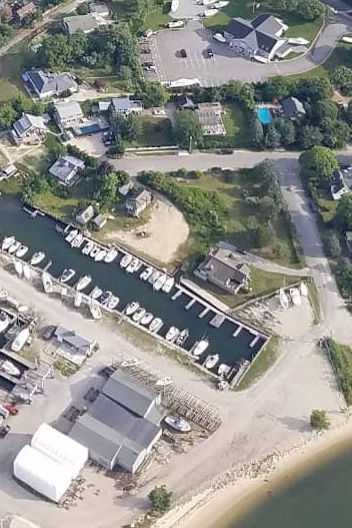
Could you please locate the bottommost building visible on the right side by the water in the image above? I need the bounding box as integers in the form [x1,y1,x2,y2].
[196,244,251,304]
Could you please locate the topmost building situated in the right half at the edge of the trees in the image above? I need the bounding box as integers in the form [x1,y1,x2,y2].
[219,13,299,66]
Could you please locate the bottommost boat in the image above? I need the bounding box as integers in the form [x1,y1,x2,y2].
[163,415,190,432]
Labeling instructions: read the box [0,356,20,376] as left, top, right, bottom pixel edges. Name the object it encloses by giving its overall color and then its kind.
white boat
